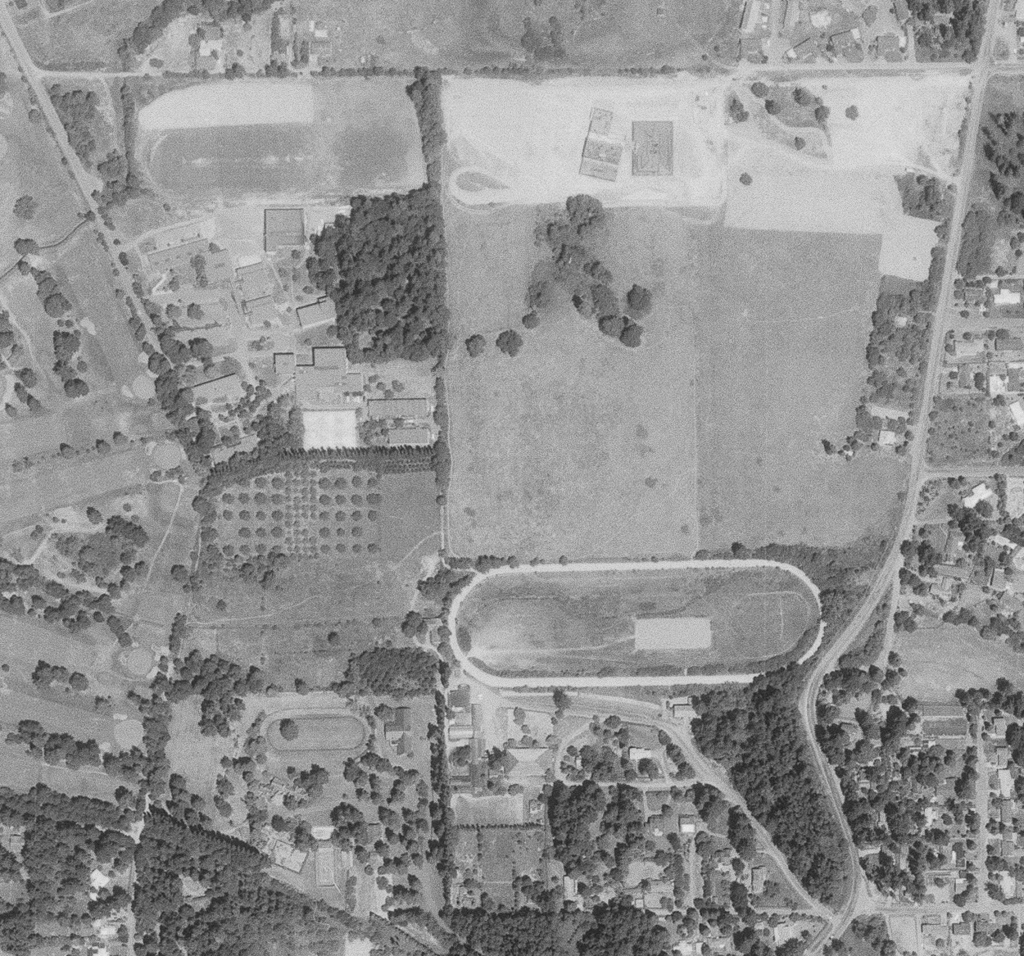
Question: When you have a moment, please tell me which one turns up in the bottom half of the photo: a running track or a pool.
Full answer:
It is a running track that can be seen in the bottom half of the photo.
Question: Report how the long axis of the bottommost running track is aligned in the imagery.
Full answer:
In this picture, the bottommost running track is oriented from left to right.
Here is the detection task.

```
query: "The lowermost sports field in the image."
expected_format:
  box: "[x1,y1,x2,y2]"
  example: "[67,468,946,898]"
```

[270,719,363,747]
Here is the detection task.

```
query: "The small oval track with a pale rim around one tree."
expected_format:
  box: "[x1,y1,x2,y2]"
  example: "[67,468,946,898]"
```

[262,710,371,756]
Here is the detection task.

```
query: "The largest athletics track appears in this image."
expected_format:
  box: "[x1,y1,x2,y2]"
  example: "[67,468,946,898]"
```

[449,558,768,687]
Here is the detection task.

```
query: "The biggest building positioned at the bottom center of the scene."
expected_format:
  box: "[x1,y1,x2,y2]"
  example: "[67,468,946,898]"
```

[506,747,556,777]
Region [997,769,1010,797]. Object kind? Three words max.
house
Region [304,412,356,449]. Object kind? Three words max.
sports court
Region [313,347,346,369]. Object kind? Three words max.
building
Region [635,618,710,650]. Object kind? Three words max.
sports court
